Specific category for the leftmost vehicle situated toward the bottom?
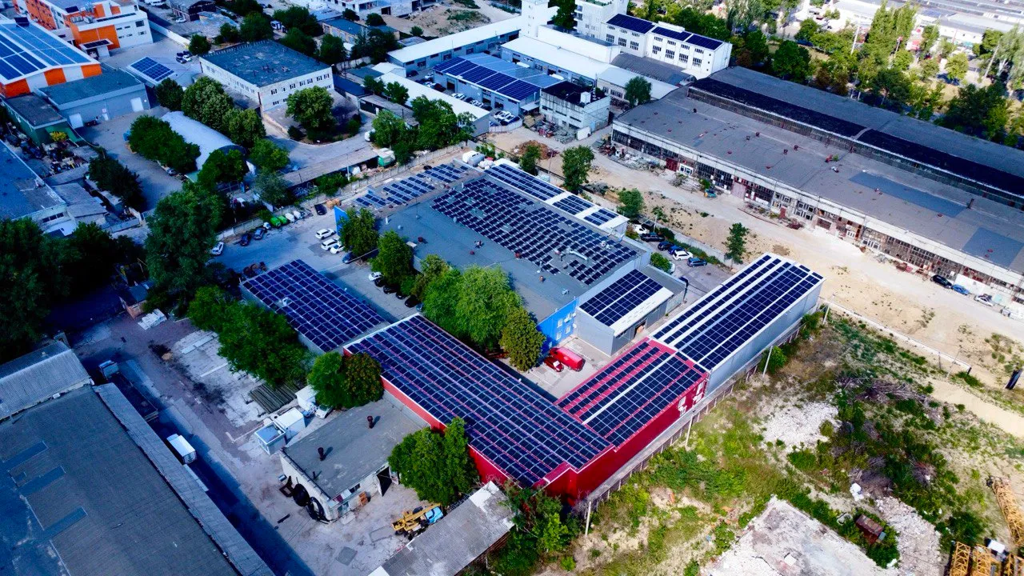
truck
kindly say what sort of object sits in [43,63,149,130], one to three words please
building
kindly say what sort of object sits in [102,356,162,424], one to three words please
truck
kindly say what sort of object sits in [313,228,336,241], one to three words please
vehicle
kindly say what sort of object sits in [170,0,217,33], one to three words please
shed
